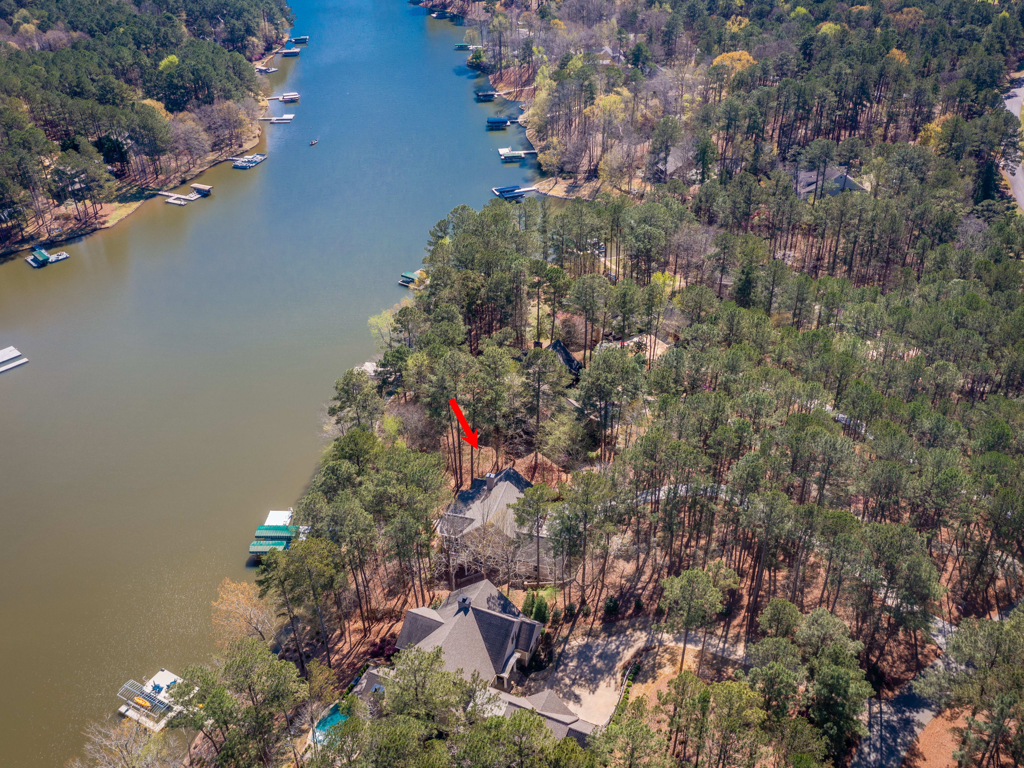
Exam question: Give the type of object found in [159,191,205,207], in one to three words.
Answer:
pier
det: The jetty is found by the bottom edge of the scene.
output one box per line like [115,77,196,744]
[117,670,210,731]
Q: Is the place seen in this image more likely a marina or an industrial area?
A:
marina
